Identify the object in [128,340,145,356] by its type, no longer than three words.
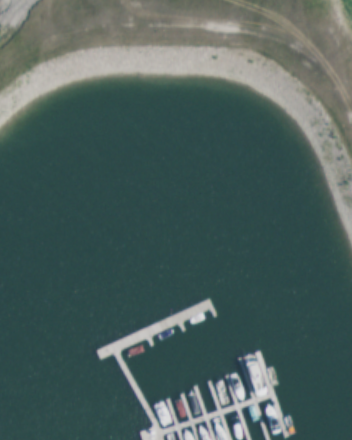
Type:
boat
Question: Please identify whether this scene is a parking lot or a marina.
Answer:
marina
